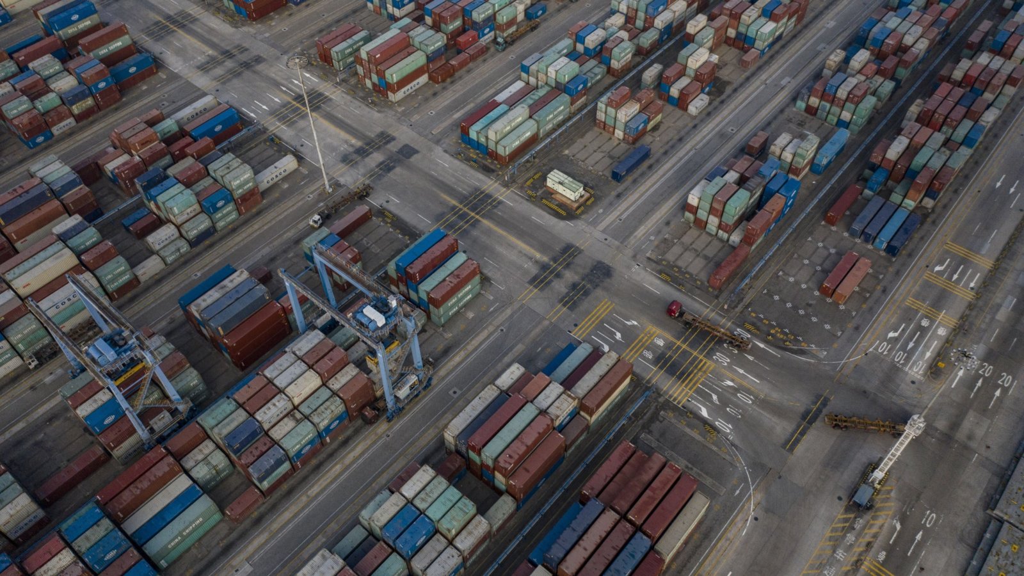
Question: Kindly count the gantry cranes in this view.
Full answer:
I count 2 gantry cranes.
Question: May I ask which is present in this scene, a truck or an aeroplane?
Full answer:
I can see a truck in this picture.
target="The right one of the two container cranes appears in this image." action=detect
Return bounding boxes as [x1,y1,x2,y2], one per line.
[273,238,441,426]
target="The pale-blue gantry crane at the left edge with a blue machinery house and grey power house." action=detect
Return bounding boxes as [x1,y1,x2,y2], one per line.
[13,264,203,456]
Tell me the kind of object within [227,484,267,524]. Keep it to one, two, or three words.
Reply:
shipping container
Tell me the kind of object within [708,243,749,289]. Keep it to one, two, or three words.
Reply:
shipping container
